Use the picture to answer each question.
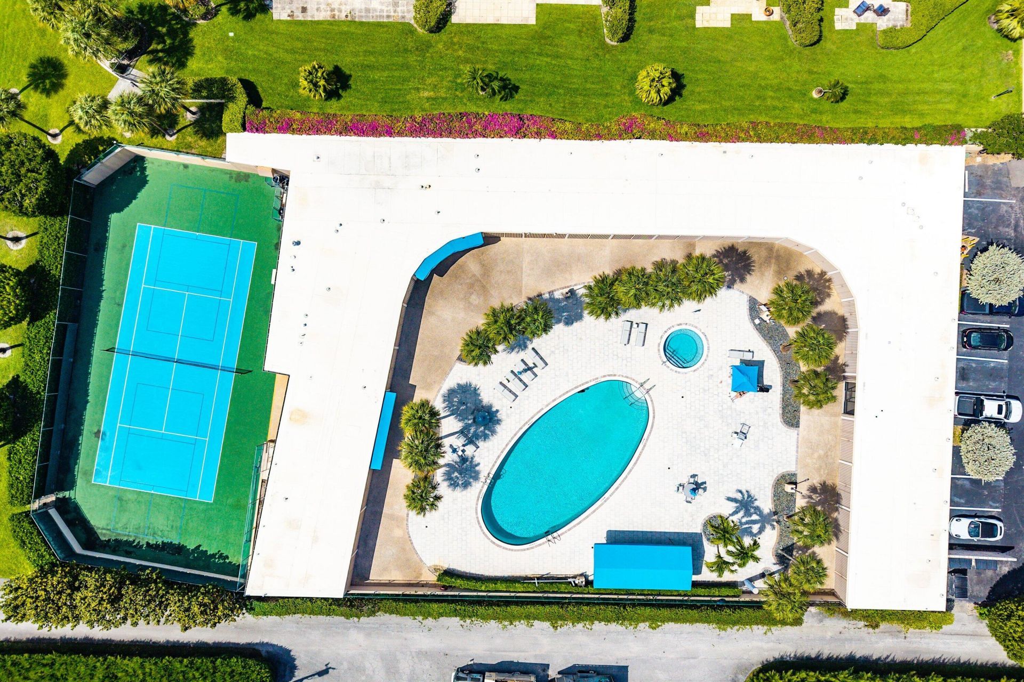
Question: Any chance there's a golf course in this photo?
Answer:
No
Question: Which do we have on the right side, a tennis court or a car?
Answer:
car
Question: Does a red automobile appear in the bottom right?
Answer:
No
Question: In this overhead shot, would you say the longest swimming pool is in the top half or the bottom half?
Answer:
bottom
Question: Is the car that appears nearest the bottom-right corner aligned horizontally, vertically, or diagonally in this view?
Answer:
horizontally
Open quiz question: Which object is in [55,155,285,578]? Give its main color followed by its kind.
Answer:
green tennis court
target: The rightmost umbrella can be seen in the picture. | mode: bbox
[730,365,757,392]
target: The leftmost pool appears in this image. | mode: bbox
[473,372,657,553]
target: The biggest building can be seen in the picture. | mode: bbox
[226,132,966,611]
